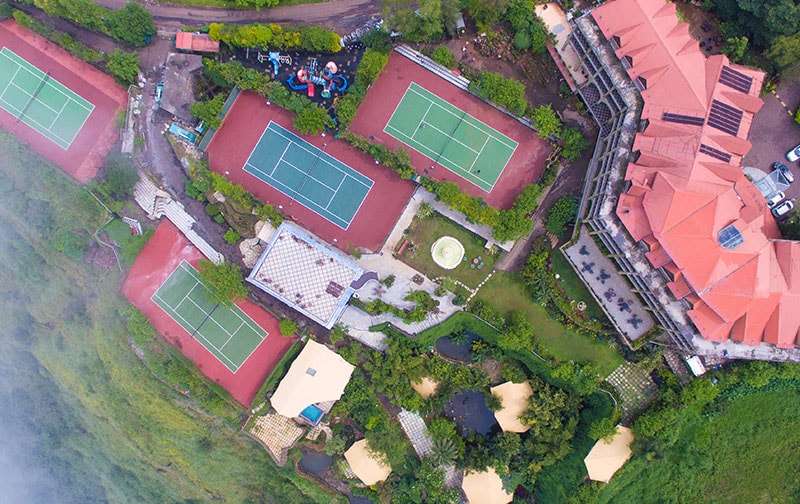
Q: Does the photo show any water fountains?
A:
Yes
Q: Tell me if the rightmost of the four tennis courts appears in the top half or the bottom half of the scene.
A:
top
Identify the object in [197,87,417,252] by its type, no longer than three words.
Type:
tennis court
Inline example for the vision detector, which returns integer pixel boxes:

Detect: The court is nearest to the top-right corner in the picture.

[346,46,557,211]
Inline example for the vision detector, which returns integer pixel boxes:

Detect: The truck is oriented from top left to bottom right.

[771,159,799,183]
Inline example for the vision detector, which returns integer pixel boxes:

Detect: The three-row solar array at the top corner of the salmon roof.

[719,66,752,93]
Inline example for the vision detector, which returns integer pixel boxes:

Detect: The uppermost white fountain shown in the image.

[430,235,465,270]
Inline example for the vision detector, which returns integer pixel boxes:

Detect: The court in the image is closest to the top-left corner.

[0,18,127,183]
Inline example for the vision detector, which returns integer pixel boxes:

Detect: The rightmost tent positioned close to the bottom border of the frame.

[584,424,633,482]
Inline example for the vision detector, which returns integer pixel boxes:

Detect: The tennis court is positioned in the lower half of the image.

[123,221,305,407]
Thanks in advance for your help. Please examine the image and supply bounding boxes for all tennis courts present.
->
[346,46,557,211]
[123,221,305,407]
[197,87,417,252]
[0,18,127,183]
